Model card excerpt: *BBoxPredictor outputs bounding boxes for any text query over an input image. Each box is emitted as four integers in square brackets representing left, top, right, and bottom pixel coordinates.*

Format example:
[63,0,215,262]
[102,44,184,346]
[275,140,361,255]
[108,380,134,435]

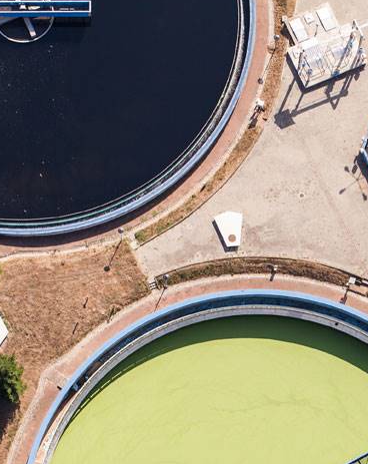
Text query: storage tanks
[0,0,257,239]
[26,289,368,464]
